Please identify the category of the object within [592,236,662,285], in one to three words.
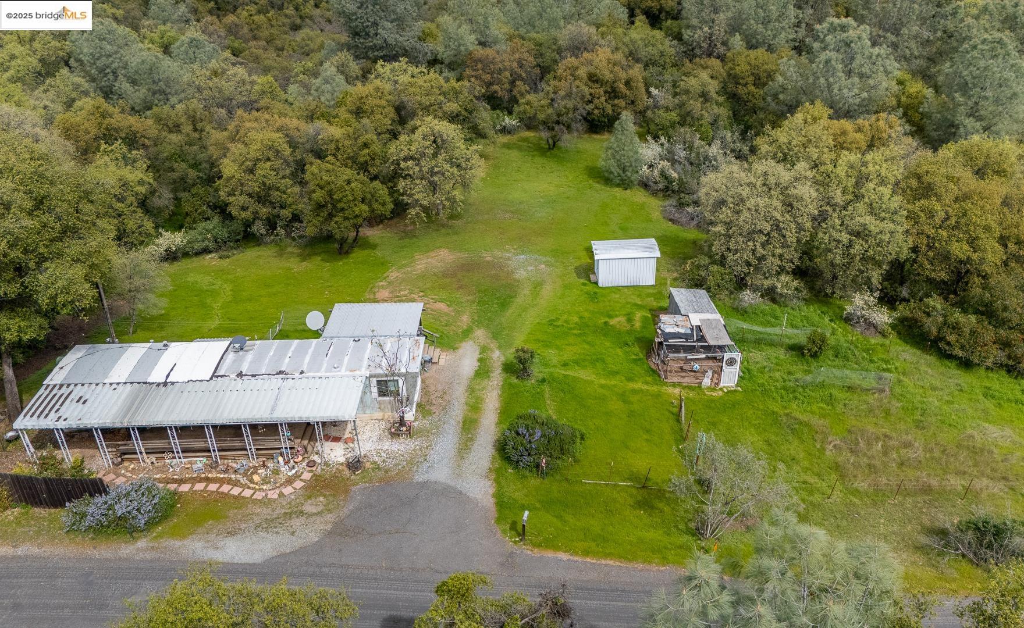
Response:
shed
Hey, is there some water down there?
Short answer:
No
